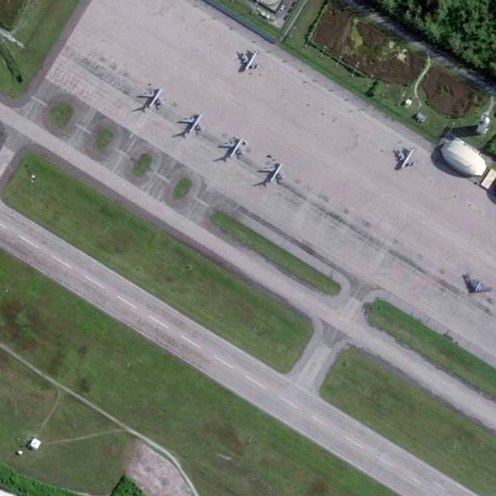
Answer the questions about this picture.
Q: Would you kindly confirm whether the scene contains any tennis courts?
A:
No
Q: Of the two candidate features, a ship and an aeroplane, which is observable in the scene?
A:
aeroplane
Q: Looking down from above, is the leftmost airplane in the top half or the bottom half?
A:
top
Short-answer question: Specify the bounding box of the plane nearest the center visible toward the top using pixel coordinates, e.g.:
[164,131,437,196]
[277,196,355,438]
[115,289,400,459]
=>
[263,162,283,185]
